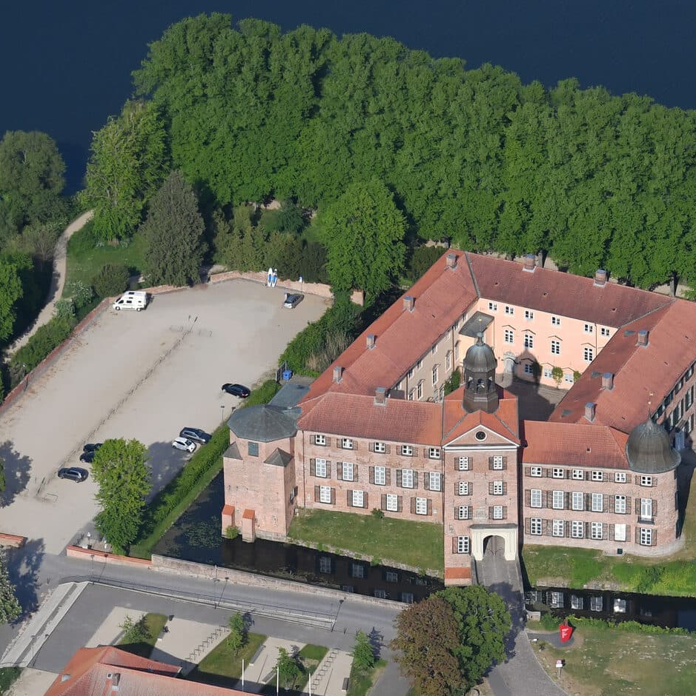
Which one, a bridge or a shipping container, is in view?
bridge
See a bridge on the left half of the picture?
No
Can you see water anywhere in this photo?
Yes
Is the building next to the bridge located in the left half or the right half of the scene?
right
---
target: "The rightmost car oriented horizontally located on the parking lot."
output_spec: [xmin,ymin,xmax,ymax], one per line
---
[219,381,249,396]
